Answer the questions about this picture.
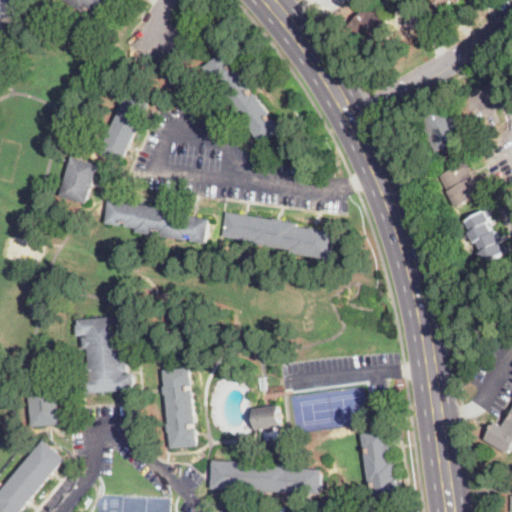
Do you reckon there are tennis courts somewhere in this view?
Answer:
Yes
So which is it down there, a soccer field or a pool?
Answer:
pool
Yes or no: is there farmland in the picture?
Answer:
No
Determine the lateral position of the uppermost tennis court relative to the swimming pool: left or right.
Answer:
to its right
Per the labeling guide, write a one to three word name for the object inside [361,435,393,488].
building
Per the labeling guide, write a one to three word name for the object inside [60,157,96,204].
house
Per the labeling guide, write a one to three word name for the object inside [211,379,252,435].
swimming pool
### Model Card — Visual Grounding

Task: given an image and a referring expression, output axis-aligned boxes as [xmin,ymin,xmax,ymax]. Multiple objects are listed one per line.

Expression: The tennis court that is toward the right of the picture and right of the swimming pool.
[290,386,370,432]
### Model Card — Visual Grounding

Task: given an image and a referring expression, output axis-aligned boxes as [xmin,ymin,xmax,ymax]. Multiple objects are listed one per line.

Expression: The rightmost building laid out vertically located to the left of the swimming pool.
[161,369,196,448]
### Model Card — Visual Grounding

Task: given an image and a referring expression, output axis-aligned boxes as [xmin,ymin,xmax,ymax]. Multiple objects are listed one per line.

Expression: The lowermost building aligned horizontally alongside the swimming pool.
[209,460,321,496]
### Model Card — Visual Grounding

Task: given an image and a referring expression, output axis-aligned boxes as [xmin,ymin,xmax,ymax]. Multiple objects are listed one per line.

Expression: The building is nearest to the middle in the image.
[222,213,328,259]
